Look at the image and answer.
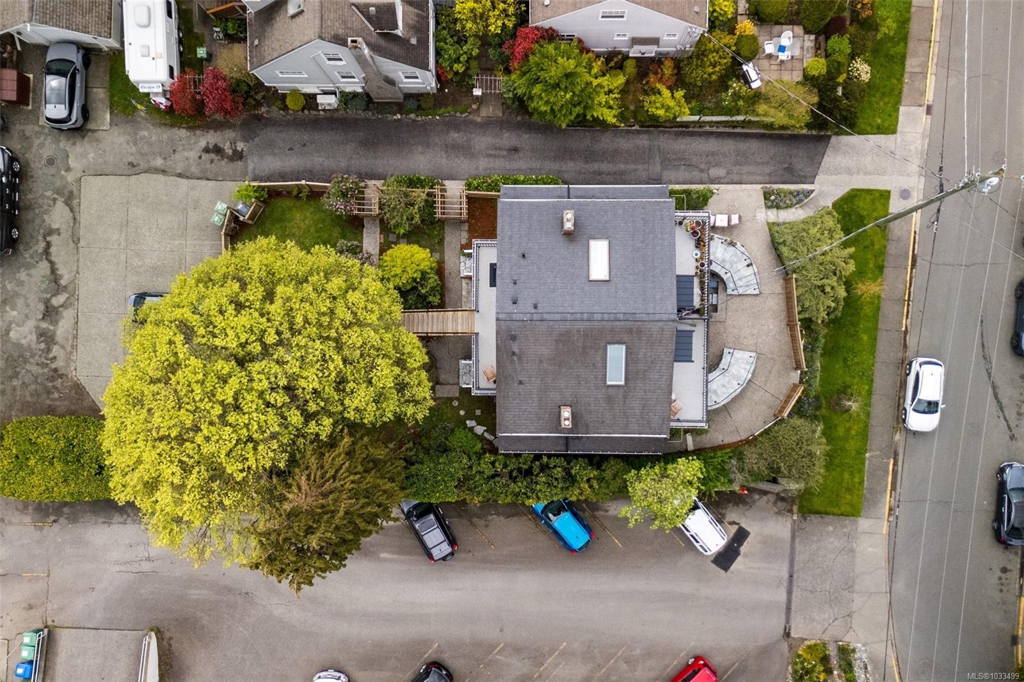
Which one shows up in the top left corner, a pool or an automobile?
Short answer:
automobile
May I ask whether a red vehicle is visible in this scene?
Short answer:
Yes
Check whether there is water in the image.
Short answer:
No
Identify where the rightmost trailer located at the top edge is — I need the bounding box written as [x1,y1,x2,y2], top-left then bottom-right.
[123,0,186,121]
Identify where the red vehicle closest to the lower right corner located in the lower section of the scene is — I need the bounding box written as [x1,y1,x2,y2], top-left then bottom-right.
[666,650,719,682]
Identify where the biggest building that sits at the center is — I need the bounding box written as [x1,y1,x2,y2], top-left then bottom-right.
[474,185,708,456]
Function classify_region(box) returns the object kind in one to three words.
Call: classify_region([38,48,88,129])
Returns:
car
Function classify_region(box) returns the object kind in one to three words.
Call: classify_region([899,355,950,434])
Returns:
car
